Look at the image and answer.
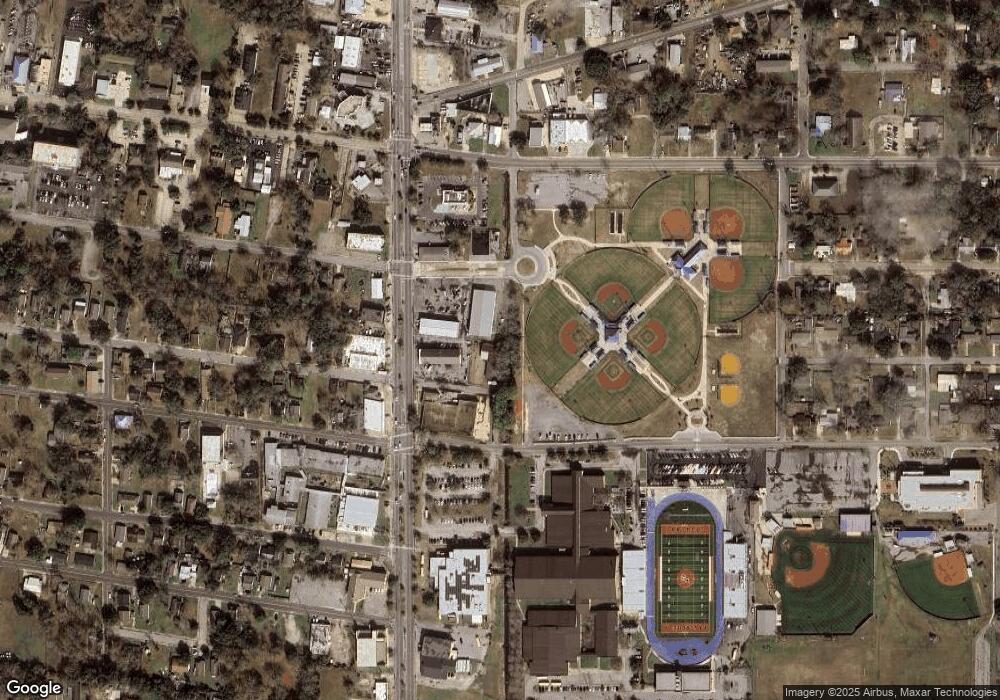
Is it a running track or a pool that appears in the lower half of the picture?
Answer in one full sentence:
There is a running track in the lower half of the picture.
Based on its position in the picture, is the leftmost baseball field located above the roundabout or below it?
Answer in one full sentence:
The leftmost baseball field appears below the roundabout in the picture.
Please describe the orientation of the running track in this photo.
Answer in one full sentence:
Seen from above, the running track lies from top to bottom.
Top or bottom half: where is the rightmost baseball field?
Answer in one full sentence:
The rightmost baseball field is in the bottom half of the image.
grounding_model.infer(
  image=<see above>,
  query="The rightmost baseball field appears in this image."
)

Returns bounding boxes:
[894,550,981,619]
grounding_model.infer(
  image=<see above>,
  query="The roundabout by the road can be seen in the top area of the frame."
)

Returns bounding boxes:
[506,246,548,289]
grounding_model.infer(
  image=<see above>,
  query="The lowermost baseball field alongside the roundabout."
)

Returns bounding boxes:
[525,283,597,390]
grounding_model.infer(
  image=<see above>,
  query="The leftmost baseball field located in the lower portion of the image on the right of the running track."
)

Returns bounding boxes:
[772,527,874,634]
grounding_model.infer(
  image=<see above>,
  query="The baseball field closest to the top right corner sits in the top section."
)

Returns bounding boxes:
[708,174,777,242]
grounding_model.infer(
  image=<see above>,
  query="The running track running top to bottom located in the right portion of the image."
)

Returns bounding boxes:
[646,493,724,664]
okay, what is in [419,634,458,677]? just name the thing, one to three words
building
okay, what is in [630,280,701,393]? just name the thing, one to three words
baseball field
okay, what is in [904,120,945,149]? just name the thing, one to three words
house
